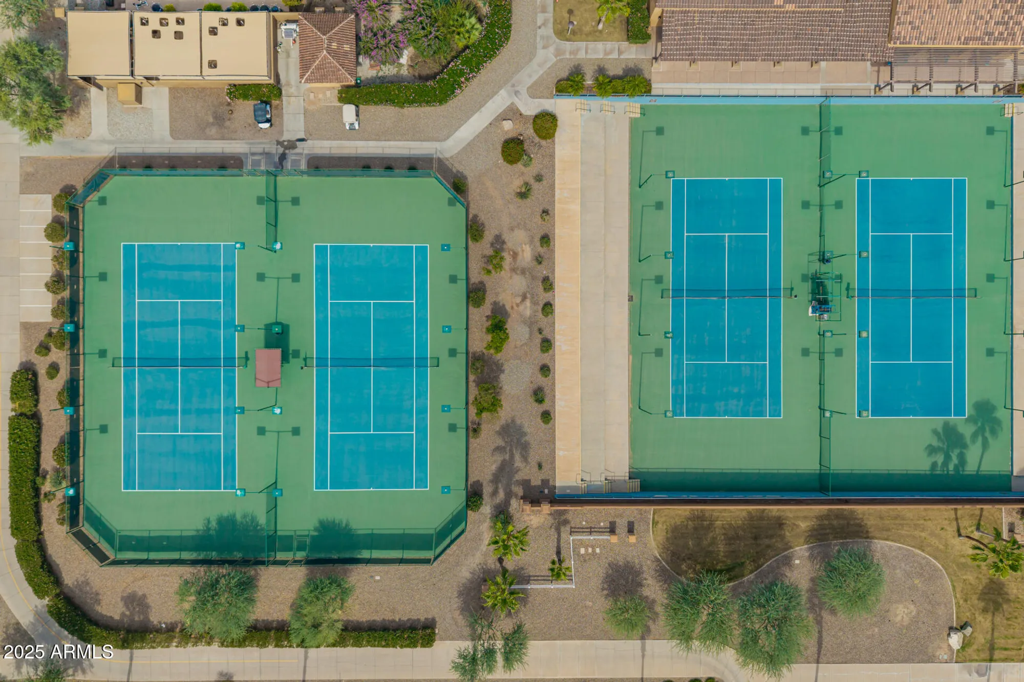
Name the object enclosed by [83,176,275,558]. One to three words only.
tennis court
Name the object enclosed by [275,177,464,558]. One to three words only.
tennis court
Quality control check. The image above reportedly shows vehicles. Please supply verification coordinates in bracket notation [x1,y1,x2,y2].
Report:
[254,102,274,131]
[344,103,361,132]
